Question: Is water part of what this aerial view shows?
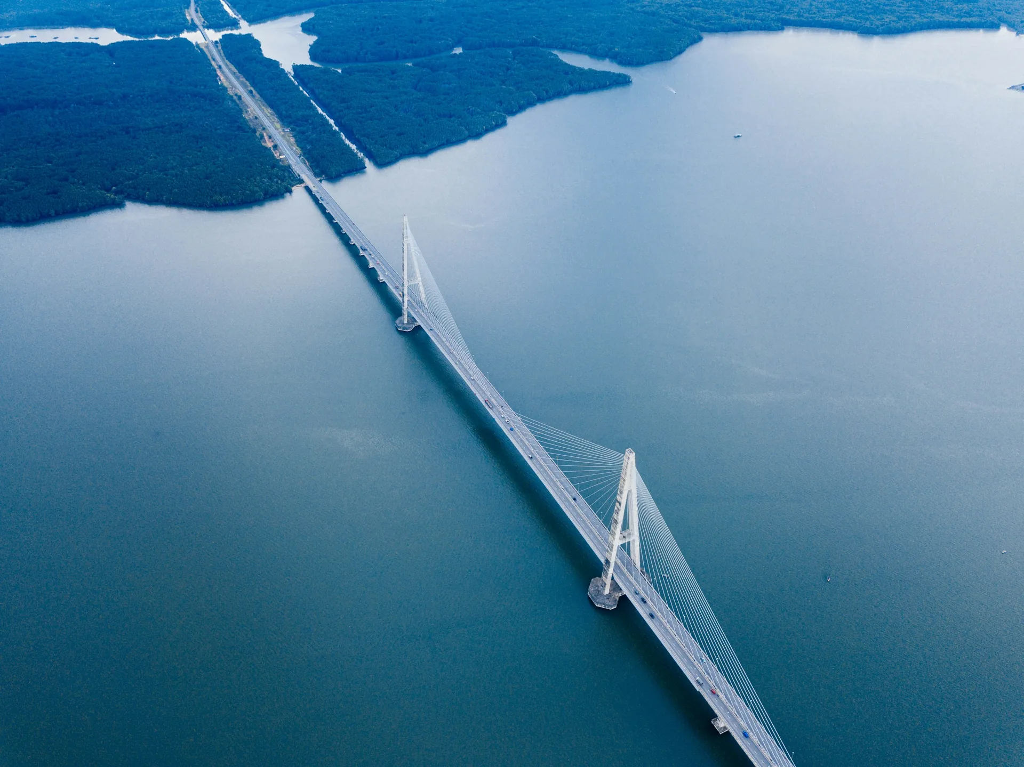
Yes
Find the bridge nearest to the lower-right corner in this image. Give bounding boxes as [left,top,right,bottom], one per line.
[307,182,795,767]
